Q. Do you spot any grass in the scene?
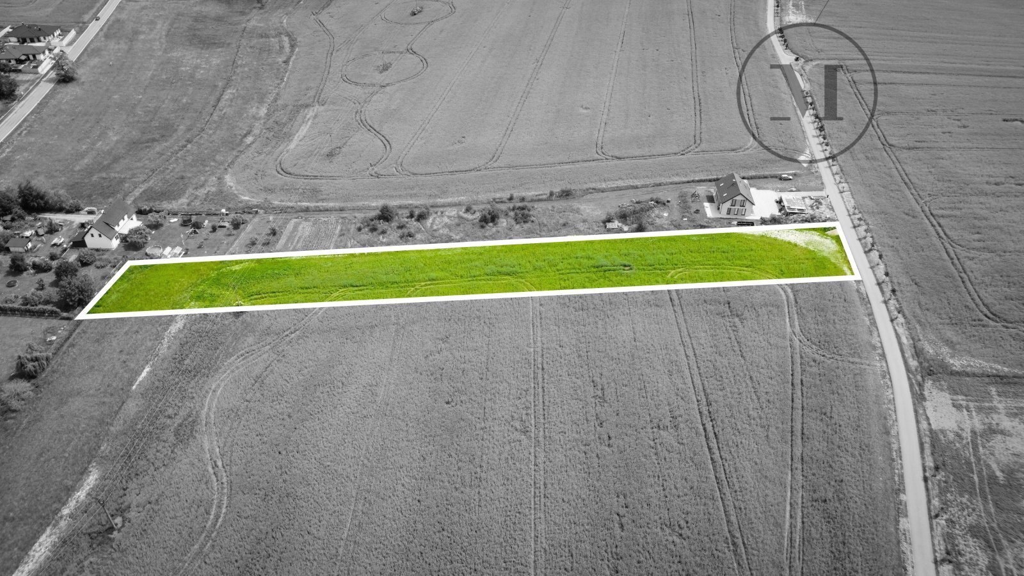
Yes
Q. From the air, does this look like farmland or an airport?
farmland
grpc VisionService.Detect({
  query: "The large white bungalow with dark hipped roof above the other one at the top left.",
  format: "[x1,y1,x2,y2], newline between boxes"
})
[4,23,67,41]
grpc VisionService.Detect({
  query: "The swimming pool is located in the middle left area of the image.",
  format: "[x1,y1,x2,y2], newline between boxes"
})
[143,244,163,257]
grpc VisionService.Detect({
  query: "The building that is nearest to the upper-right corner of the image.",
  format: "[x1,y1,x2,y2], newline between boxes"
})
[782,192,811,217]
